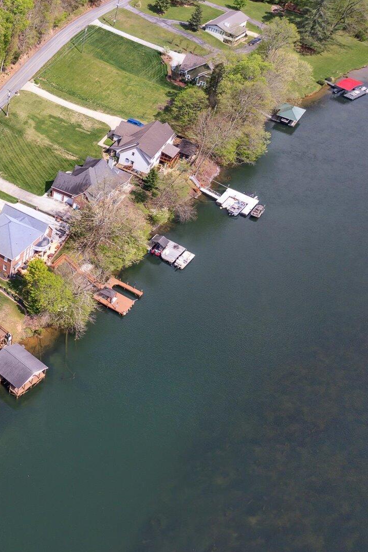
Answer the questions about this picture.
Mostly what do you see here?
water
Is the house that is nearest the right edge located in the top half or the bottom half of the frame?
top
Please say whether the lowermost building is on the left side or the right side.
left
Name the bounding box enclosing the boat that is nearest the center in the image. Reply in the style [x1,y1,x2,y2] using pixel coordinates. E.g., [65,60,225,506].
[176,251,199,271]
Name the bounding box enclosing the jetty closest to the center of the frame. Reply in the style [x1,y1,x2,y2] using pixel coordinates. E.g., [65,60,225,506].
[148,237,188,265]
